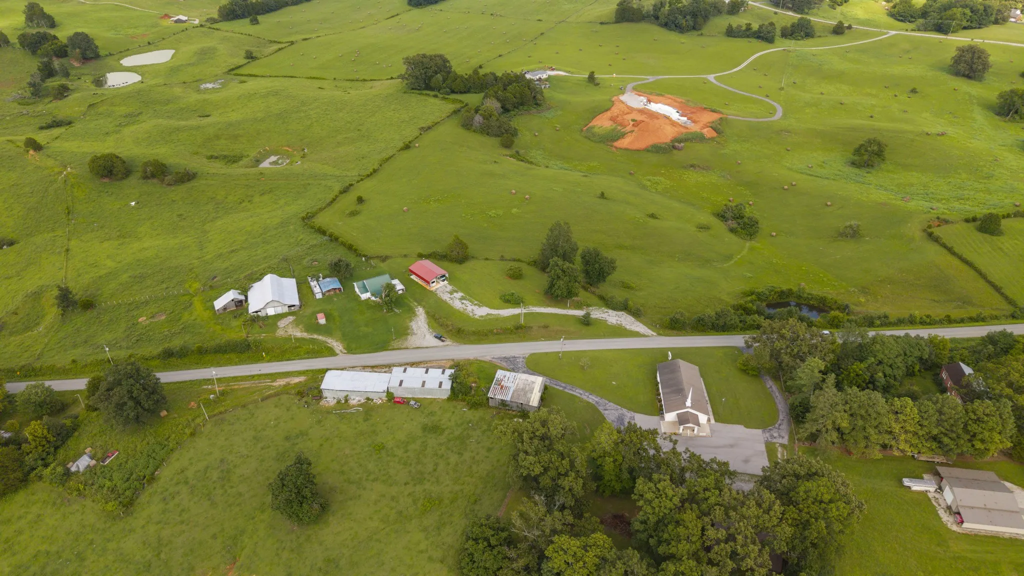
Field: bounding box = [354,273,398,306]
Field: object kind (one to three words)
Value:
house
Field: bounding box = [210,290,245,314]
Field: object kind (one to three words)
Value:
shed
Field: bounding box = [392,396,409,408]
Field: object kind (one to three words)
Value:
vehicle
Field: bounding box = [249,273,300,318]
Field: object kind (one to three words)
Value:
barn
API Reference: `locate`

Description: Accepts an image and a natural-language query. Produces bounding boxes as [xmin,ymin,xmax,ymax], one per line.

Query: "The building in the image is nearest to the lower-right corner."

[935,466,1024,536]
